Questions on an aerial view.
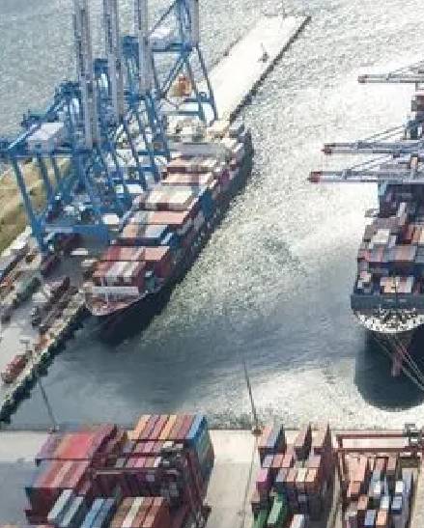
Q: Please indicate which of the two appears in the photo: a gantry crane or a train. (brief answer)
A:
gantry crane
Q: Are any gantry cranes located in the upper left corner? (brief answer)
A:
Yes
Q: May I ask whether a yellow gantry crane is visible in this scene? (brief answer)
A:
No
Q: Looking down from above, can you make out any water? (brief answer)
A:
Yes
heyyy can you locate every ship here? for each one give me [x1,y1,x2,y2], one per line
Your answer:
[79,124,262,337]
[346,272,424,375]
